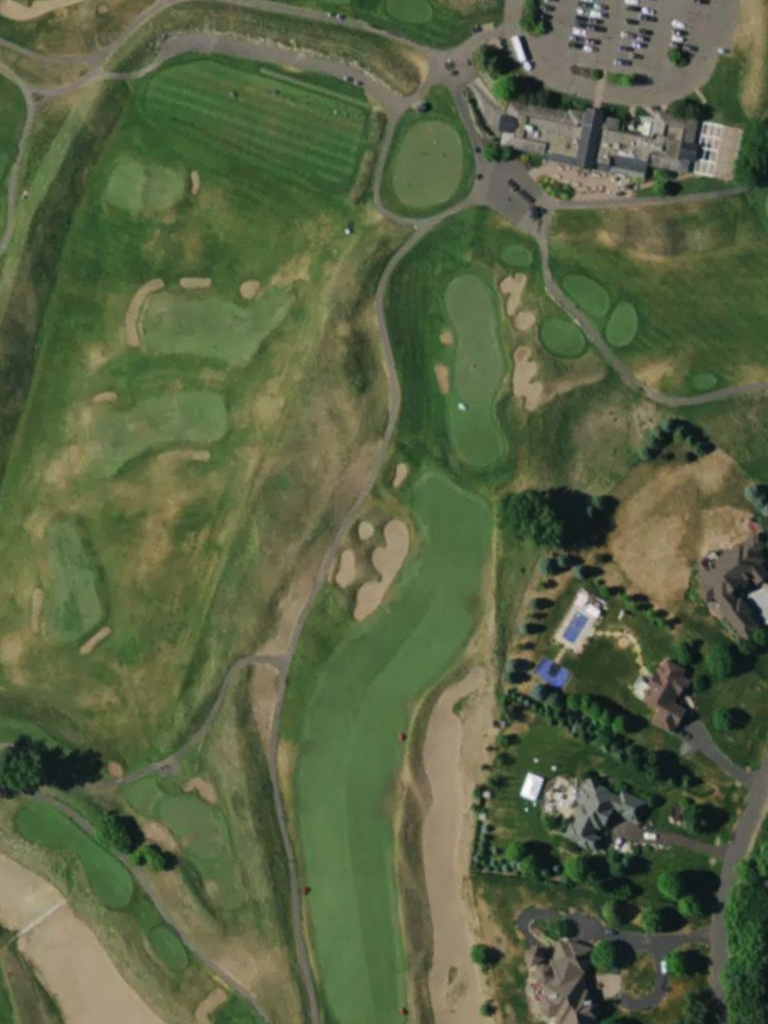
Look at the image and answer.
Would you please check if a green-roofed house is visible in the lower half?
No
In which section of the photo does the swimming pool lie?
right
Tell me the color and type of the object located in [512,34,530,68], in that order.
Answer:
white vehicle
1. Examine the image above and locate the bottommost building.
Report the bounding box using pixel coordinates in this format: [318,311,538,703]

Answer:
[524,933,596,1024]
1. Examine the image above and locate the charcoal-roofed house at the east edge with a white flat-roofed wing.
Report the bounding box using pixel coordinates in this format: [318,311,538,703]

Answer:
[713,527,768,625]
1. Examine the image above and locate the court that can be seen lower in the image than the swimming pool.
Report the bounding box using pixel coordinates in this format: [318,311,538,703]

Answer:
[536,656,570,688]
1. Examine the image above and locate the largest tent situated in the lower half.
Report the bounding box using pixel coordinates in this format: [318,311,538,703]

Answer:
[520,773,544,801]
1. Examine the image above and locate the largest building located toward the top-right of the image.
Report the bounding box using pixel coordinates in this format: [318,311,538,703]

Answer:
[500,103,702,180]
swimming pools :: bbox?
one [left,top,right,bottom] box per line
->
[556,588,600,653]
